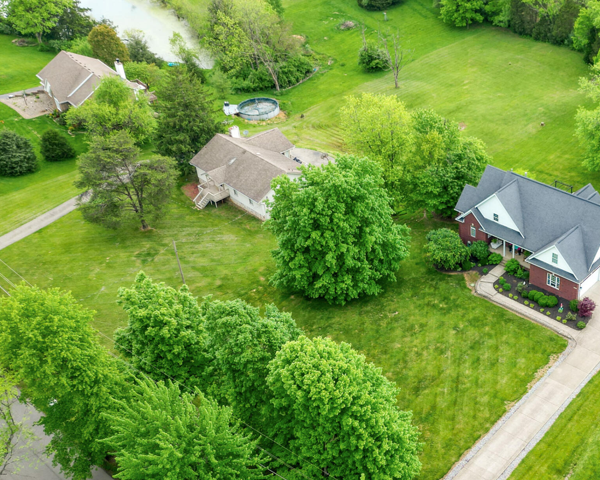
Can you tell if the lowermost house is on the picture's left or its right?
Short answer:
right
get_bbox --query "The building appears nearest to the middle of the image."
[187,110,308,219]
